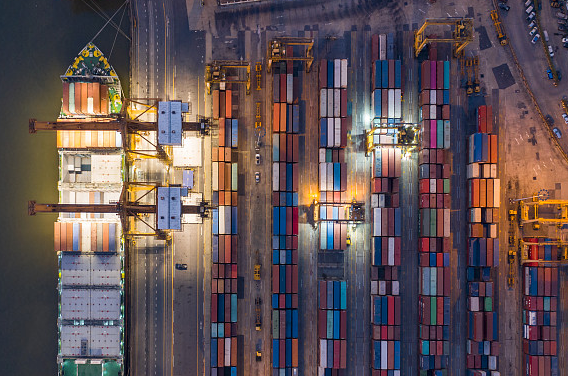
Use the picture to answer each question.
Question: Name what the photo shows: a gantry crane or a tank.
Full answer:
The image shows a gantry crane.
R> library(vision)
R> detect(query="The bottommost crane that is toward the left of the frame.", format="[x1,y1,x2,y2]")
[27,182,210,239]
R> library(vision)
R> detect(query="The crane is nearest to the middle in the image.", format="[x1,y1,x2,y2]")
[314,196,370,231]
